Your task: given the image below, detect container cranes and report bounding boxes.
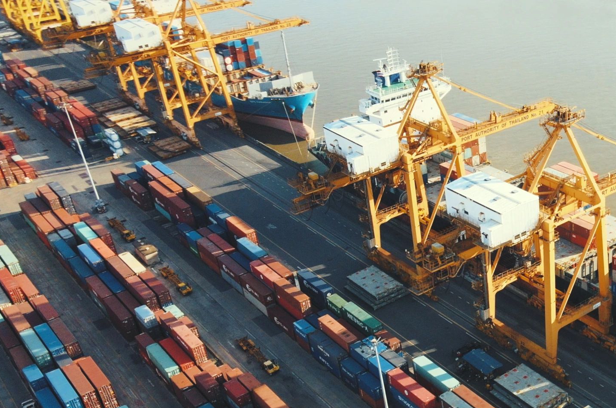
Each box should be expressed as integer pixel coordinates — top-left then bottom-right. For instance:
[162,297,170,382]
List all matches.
[275,60,576,296]
[0,0,56,32]
[80,0,325,151]
[399,111,616,390]
[16,0,78,47]
[43,0,261,121]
